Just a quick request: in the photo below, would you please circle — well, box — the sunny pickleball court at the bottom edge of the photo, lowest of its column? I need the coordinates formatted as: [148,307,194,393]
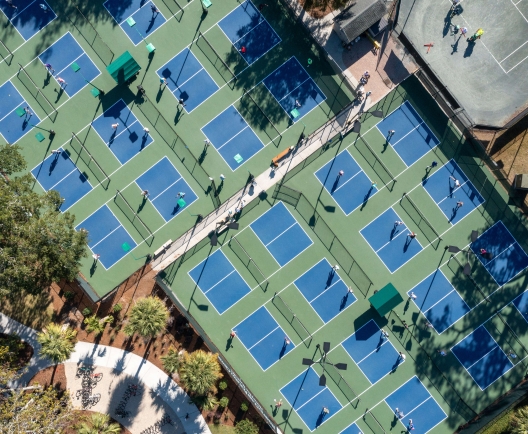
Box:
[342,376,449,434]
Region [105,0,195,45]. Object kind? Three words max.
sports court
